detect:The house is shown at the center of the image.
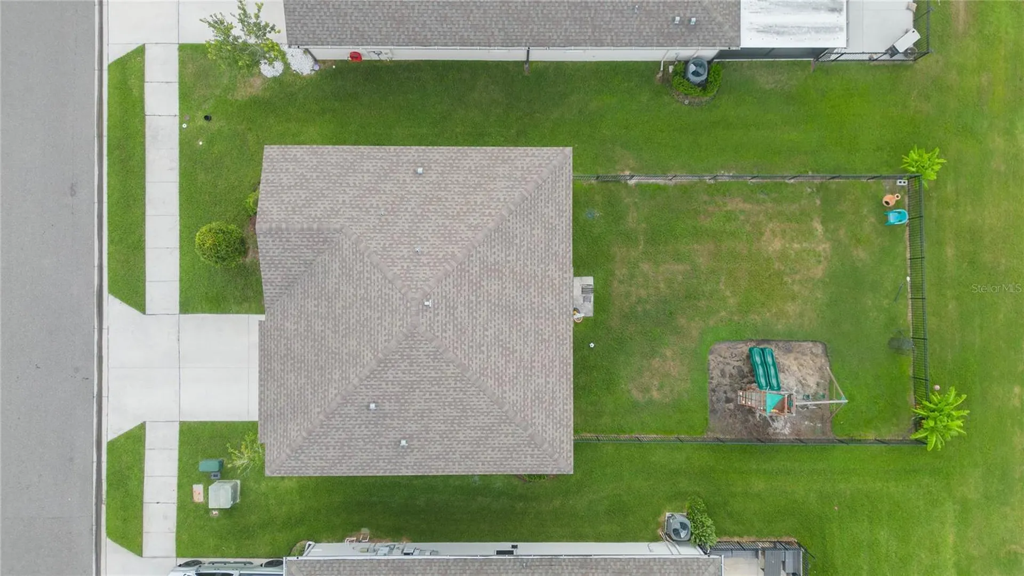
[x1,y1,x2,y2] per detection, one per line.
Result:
[255,145,573,476]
